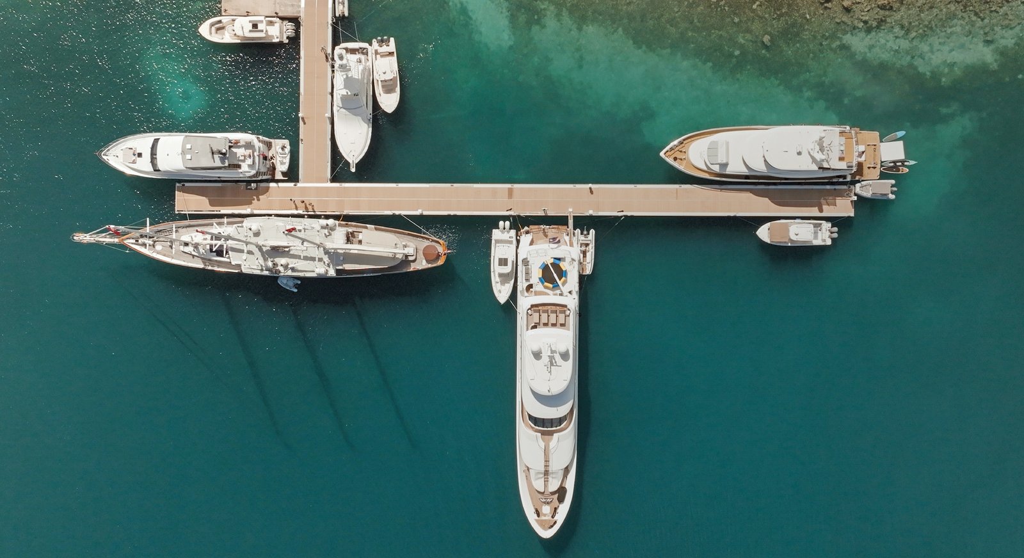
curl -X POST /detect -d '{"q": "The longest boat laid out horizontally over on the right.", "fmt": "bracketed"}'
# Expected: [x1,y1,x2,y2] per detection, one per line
[660,124,881,183]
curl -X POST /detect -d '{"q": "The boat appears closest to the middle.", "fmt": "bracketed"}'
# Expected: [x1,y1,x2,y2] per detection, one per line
[491,220,516,304]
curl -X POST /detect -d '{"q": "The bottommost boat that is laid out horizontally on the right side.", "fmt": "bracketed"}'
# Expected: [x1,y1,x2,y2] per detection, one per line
[755,220,838,246]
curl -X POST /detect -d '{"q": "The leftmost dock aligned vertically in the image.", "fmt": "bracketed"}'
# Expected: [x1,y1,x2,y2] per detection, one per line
[300,0,333,183]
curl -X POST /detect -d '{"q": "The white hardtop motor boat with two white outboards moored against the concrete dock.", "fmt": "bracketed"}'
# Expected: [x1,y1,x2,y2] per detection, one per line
[199,16,296,44]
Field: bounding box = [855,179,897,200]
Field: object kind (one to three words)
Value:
boat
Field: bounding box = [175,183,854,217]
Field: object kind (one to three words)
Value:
pier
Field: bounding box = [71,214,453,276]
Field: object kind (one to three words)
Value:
ship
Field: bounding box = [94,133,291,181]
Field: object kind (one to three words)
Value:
boat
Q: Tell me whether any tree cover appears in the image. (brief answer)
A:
No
